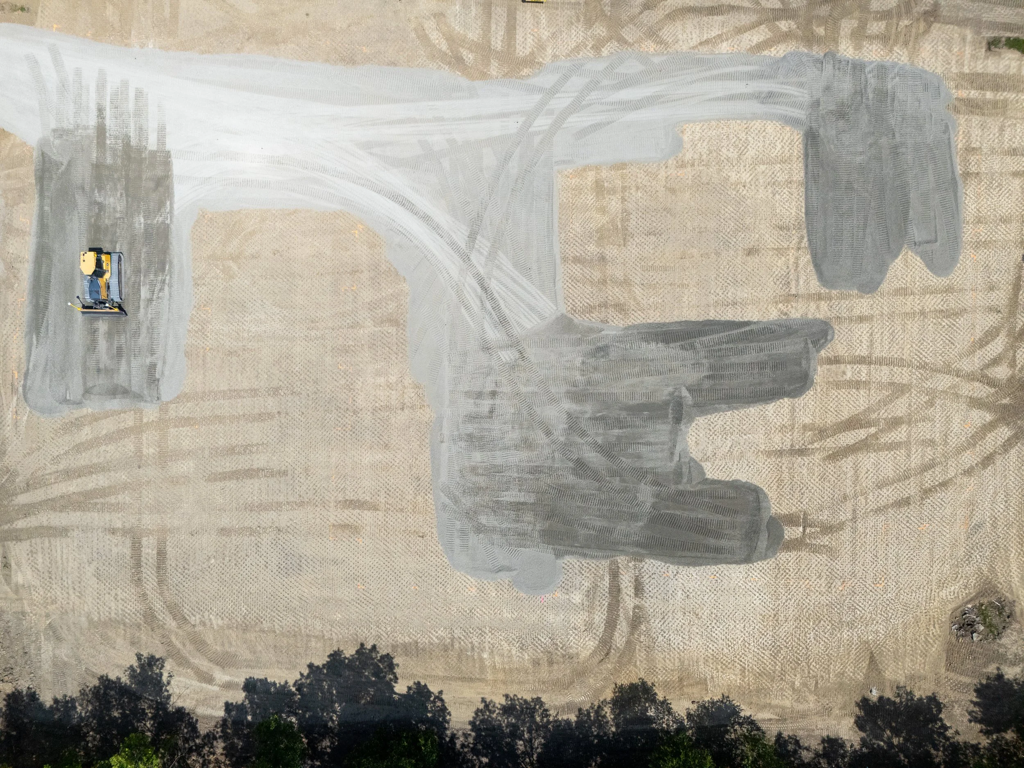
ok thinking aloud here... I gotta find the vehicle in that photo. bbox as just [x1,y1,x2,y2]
[68,251,126,319]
